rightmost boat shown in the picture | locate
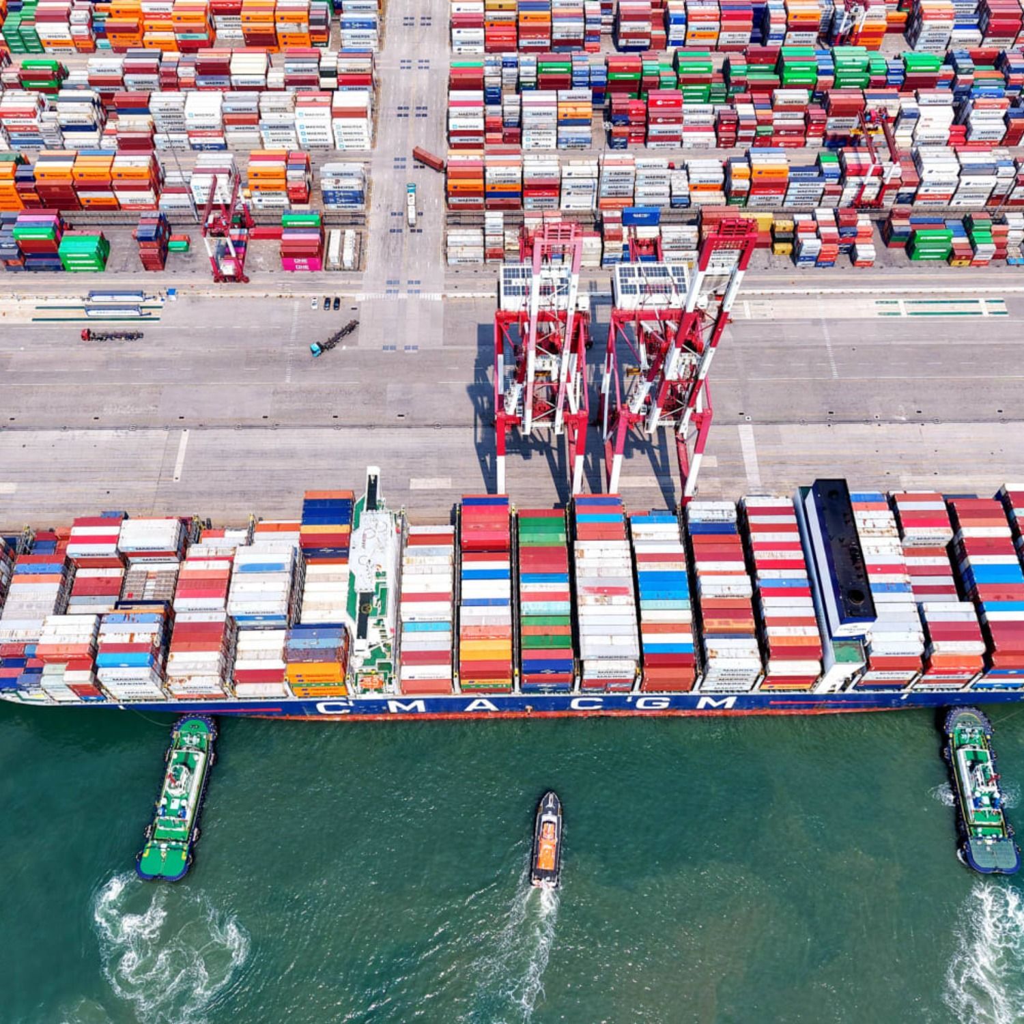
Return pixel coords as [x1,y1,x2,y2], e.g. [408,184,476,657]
[937,702,1024,866]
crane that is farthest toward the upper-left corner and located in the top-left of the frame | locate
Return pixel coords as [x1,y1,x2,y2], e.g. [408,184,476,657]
[199,168,255,278]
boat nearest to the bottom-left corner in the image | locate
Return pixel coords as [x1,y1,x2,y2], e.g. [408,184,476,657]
[138,715,219,880]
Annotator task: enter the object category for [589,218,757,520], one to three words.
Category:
container crane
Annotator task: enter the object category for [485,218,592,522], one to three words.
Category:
container crane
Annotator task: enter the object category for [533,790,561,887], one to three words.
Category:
boat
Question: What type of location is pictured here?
port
